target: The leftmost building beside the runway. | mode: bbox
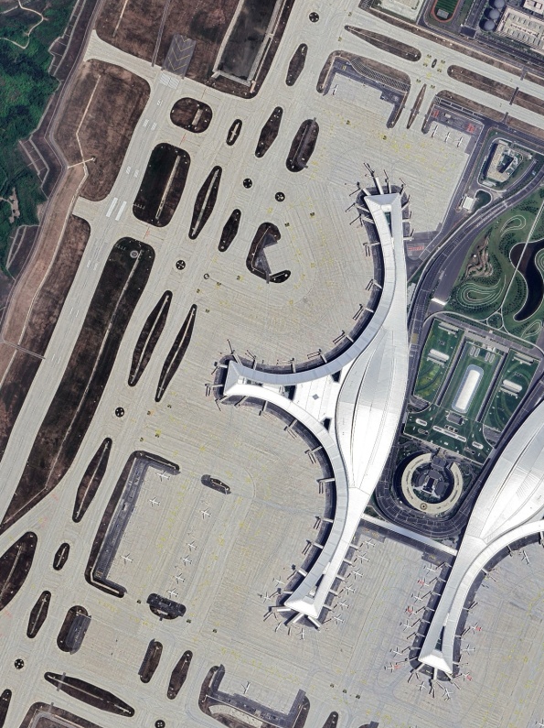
[208,162,414,635]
